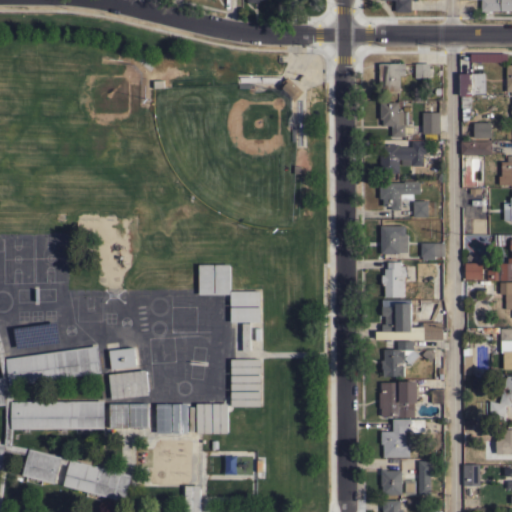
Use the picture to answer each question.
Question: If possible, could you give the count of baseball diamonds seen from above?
2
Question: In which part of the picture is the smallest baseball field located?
top left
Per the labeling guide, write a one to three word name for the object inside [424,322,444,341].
building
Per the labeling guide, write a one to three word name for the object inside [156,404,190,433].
building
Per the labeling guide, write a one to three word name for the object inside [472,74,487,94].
house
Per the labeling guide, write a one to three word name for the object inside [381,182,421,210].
house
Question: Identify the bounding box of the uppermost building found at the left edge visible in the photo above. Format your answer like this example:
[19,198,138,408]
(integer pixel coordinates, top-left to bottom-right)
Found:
[6,346,102,382]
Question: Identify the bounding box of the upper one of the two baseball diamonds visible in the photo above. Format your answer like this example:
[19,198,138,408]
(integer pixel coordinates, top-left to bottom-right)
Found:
[86,58,140,124]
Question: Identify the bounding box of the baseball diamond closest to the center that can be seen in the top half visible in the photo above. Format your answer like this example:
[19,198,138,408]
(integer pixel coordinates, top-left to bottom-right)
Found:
[155,91,294,230]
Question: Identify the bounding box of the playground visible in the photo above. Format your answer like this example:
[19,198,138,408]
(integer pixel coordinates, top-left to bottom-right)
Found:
[0,236,235,404]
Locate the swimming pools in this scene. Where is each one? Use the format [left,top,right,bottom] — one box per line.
[478,346,489,370]
[420,405,439,416]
